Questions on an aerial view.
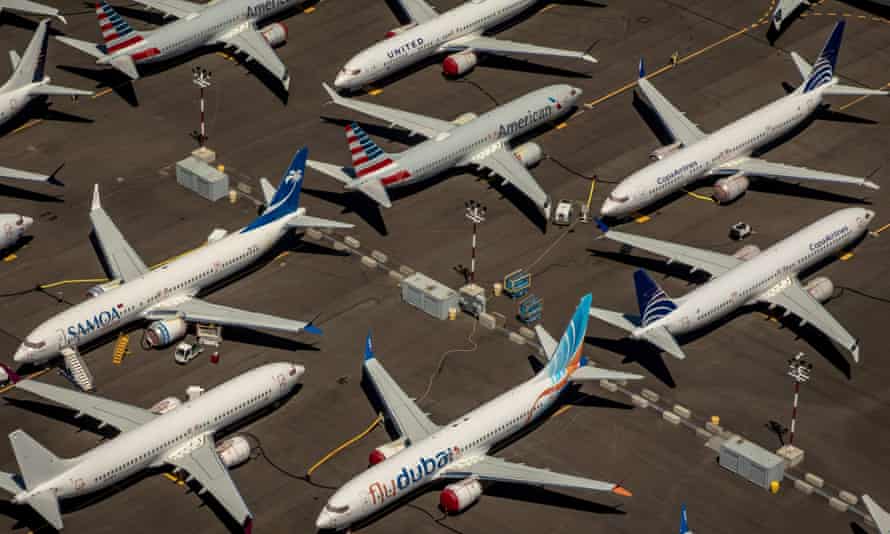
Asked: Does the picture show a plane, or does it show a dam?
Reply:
plane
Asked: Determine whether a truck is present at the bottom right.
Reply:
No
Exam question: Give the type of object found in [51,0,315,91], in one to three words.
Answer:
airplane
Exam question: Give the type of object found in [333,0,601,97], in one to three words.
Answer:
airplane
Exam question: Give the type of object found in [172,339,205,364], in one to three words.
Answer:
truck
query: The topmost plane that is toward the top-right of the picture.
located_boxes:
[772,0,829,30]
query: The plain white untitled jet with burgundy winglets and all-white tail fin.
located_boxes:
[0,361,303,534]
